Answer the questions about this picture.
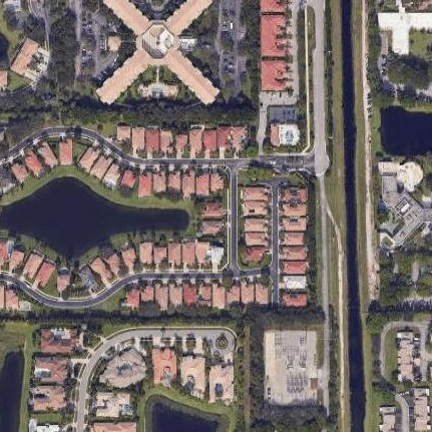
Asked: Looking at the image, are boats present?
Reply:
No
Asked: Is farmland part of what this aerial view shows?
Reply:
No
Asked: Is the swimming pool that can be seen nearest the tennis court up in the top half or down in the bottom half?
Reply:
top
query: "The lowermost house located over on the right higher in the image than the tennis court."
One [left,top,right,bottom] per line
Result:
[261,60,285,90]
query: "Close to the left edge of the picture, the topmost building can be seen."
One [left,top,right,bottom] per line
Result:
[9,37,40,75]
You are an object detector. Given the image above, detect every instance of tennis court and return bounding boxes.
[268,106,296,122]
